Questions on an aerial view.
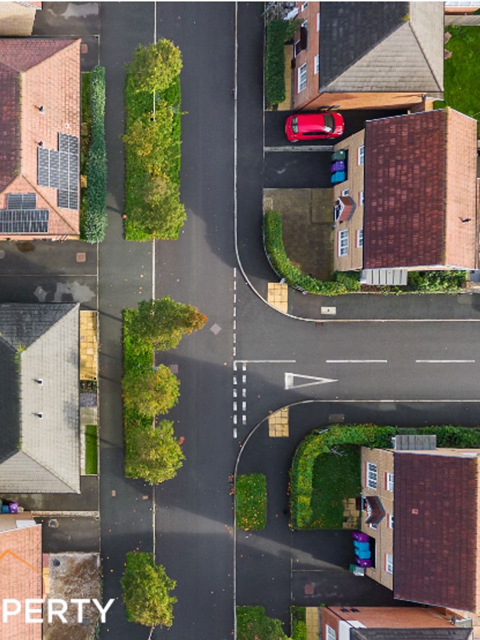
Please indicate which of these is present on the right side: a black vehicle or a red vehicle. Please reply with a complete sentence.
You can see a red vehicle on the right side.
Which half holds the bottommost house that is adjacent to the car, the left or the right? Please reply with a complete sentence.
The bottommost house that is adjacent to the car sits on the right side.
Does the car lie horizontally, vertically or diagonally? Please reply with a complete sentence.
The car is laid out horizontally.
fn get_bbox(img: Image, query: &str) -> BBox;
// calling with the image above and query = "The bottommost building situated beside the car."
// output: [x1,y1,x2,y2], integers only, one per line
[332,108,480,272]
